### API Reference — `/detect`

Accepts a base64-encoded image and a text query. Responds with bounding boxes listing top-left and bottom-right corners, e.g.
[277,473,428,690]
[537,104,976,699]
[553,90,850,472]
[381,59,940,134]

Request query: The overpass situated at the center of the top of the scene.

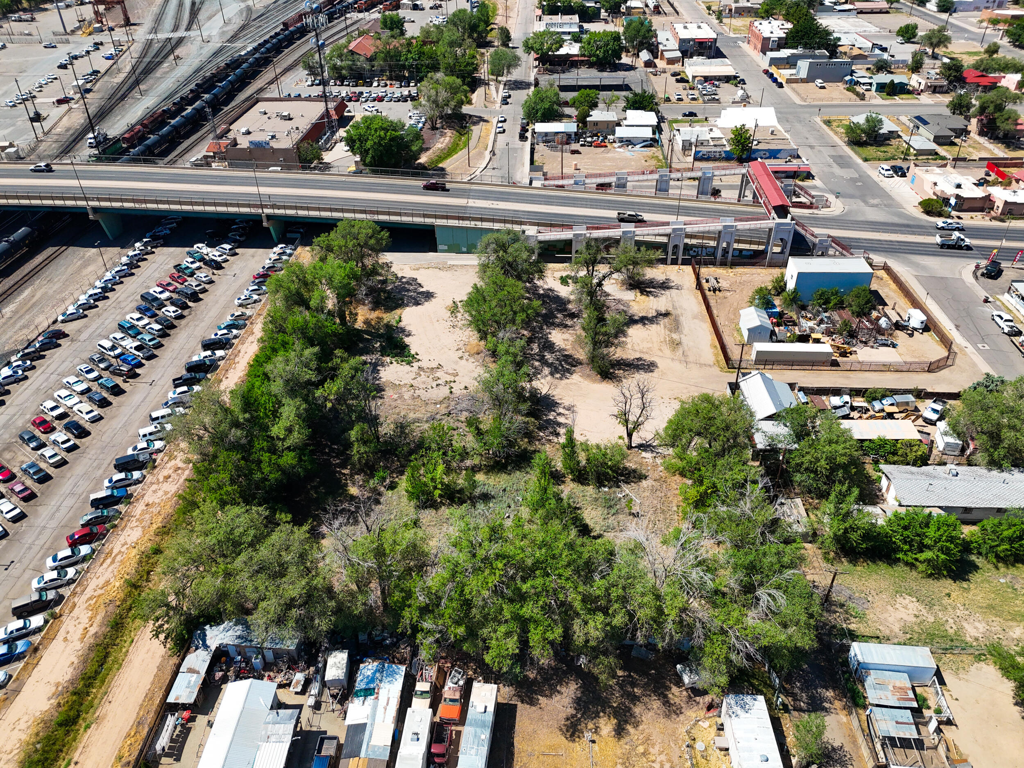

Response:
[0,162,820,257]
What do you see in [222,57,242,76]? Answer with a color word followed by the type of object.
black rail car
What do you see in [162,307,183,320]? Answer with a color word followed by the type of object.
white vehicle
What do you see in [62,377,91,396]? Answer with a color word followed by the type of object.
white car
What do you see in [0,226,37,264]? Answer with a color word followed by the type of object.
black rail car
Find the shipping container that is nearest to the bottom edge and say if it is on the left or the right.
right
